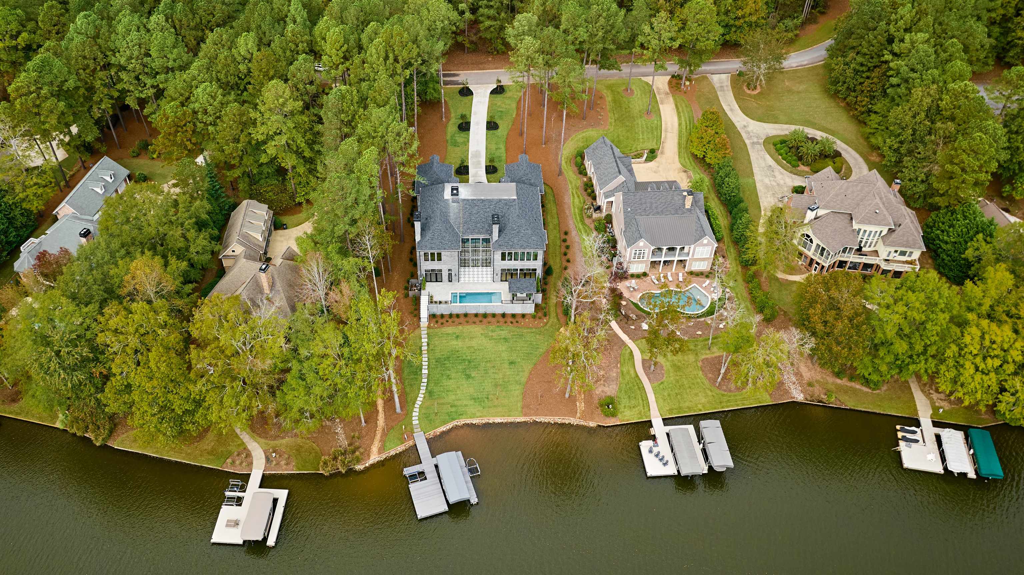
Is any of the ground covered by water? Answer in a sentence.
Yes, some water is visible.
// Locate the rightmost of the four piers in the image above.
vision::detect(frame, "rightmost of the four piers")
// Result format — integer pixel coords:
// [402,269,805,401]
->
[894,418,977,480]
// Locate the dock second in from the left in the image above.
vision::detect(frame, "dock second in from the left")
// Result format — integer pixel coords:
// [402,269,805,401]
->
[403,431,479,522]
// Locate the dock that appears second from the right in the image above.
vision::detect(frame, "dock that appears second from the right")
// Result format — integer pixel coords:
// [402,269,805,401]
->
[638,417,708,480]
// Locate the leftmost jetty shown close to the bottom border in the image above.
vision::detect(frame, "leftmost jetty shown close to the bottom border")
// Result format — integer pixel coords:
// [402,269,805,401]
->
[210,469,290,551]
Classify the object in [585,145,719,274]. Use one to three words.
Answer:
house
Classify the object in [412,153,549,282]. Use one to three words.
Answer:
house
